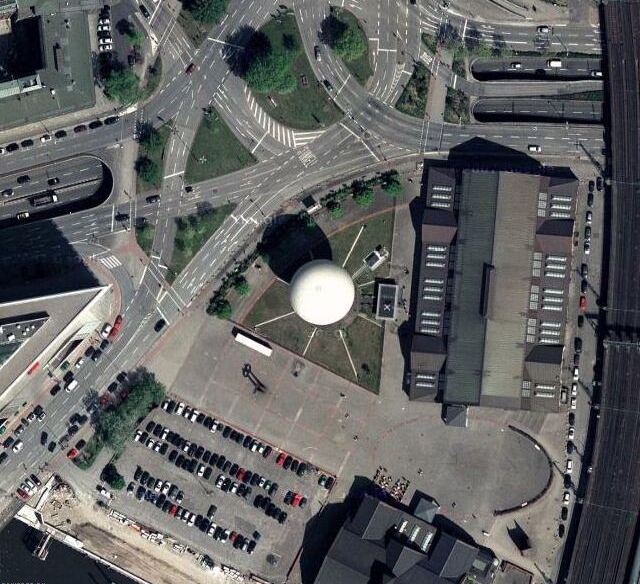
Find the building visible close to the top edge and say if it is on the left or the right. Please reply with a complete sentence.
The building visible close to the top edge sits on the left side.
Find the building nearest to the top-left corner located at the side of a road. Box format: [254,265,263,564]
[0,0,101,134]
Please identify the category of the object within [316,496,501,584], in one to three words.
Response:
building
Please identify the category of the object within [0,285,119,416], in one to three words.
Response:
building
